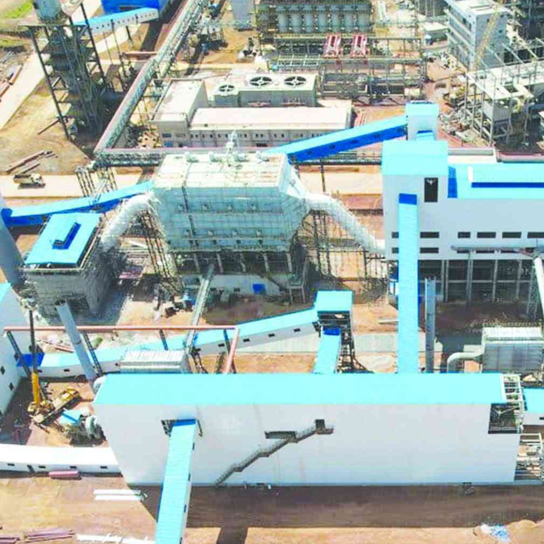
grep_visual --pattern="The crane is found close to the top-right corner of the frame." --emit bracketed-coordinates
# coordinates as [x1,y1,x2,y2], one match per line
[464,0,503,77]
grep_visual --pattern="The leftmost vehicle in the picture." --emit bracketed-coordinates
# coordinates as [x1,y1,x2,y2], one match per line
[12,177,42,190]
